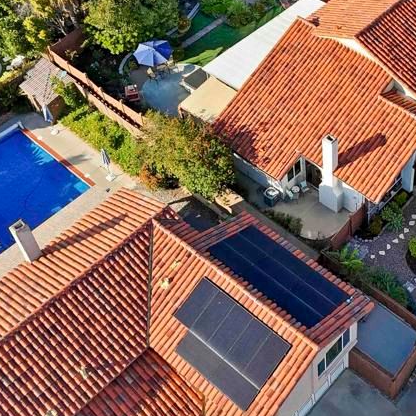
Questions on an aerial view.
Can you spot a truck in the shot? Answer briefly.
No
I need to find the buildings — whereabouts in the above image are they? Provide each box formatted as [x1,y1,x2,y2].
[211,0,416,220]
[13,57,80,120]
[0,185,377,416]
